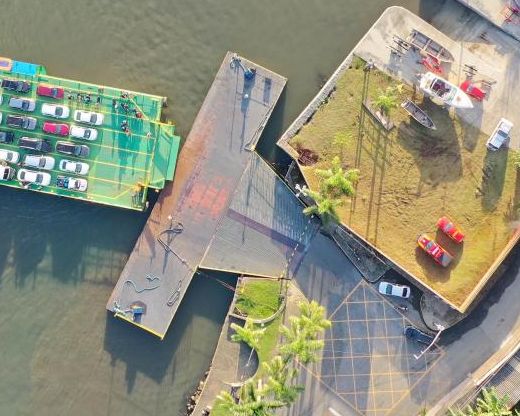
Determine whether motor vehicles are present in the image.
Yes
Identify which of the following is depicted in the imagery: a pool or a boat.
boat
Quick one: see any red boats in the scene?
Yes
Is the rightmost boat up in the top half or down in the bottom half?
top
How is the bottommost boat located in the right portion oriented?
on a diagonal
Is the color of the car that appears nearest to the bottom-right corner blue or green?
blue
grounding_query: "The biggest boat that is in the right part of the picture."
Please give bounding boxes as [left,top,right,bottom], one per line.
[414,73,474,110]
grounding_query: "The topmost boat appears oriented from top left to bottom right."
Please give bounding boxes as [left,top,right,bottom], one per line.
[407,29,453,62]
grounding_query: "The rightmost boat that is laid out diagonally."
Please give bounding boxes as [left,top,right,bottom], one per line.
[458,80,486,101]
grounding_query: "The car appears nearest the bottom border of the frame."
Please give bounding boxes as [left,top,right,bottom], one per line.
[400,324,432,344]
